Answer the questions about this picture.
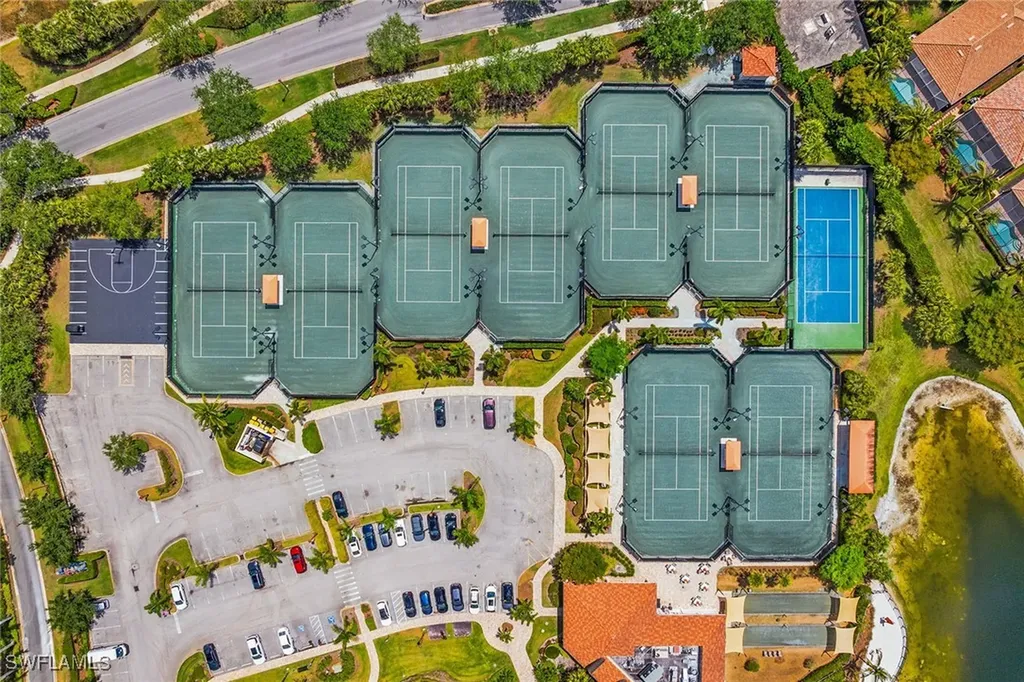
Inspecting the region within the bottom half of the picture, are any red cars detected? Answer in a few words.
Yes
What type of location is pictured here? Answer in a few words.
sports ground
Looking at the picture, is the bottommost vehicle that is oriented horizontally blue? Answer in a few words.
No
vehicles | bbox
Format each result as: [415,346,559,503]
[246,634,266,664]
[172,582,189,611]
[483,399,496,428]
[444,512,457,540]
[83,643,130,664]
[203,641,222,672]
[332,489,350,518]
[362,523,378,551]
[434,585,448,614]
[393,517,408,546]
[434,399,446,426]
[501,581,513,610]
[411,512,425,541]
[248,560,266,589]
[450,582,464,611]
[291,544,307,573]
[377,519,393,548]
[278,625,296,654]
[468,585,481,613]
[376,598,392,627]
[484,584,497,613]
[345,532,362,559]
[402,590,417,618]
[427,512,441,541]
[419,587,433,615]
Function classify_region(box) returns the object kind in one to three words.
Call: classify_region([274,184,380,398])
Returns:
tennis court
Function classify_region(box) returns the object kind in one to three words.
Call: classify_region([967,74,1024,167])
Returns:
house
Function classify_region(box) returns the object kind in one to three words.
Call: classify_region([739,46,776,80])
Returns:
shed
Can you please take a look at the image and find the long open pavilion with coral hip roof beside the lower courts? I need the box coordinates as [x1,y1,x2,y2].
[841,418,874,494]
